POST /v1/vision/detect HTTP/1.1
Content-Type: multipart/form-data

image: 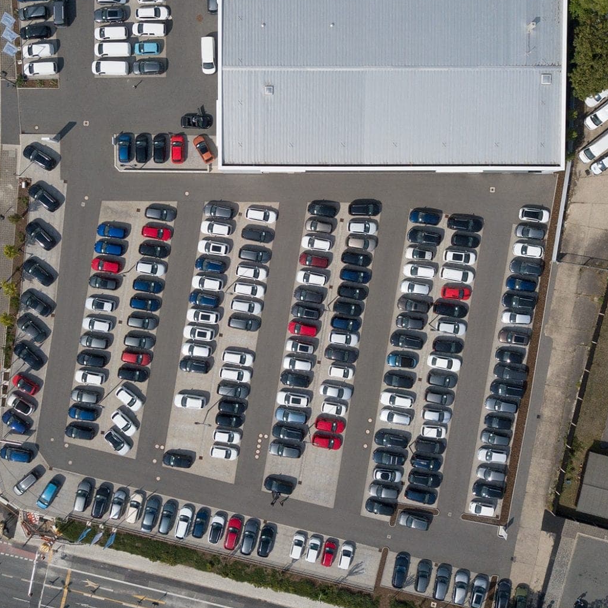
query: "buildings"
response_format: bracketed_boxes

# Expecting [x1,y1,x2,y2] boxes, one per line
[216,0,566,176]
[572,452,608,519]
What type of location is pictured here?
parking lot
